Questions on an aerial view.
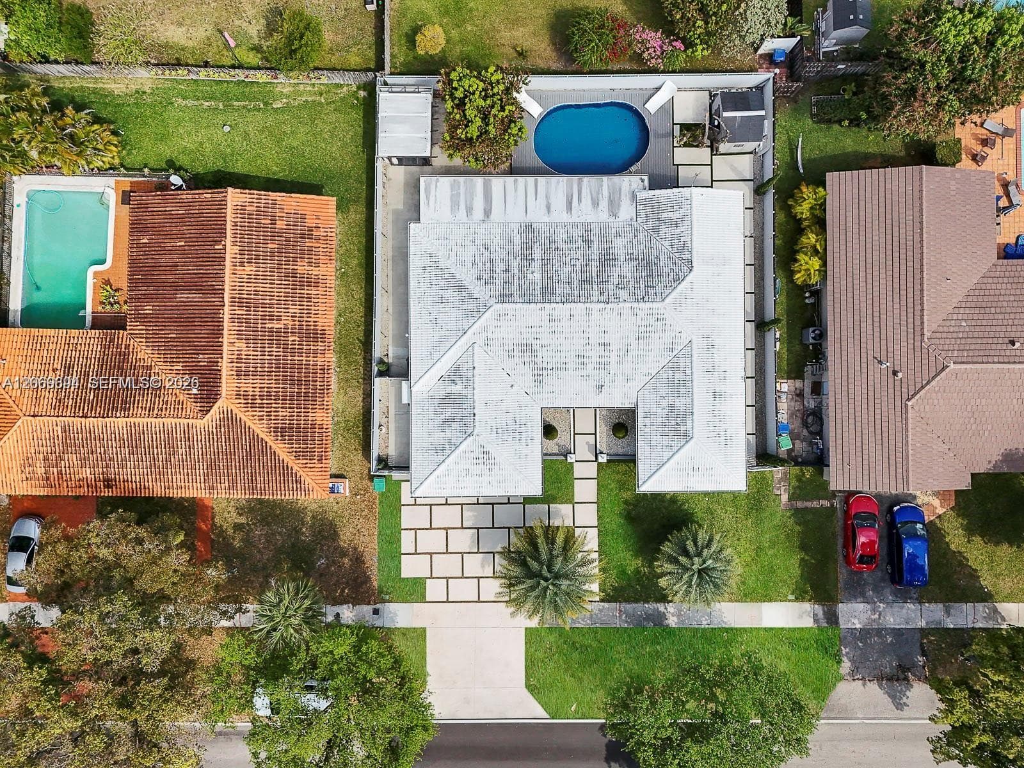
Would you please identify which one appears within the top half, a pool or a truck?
pool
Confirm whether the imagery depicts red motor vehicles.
Yes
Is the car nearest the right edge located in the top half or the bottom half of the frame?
bottom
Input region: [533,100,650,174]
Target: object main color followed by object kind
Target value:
blue swimming pool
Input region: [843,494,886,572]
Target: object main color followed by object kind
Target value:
red car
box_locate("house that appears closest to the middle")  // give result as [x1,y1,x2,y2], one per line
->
[407,174,747,500]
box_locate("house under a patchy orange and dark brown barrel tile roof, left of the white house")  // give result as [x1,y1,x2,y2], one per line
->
[0,186,333,499]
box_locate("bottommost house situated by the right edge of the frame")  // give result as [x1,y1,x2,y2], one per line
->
[821,164,1024,495]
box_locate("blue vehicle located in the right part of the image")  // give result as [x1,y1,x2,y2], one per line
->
[887,502,934,583]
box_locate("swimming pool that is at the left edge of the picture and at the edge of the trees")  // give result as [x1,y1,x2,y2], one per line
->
[14,185,114,329]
